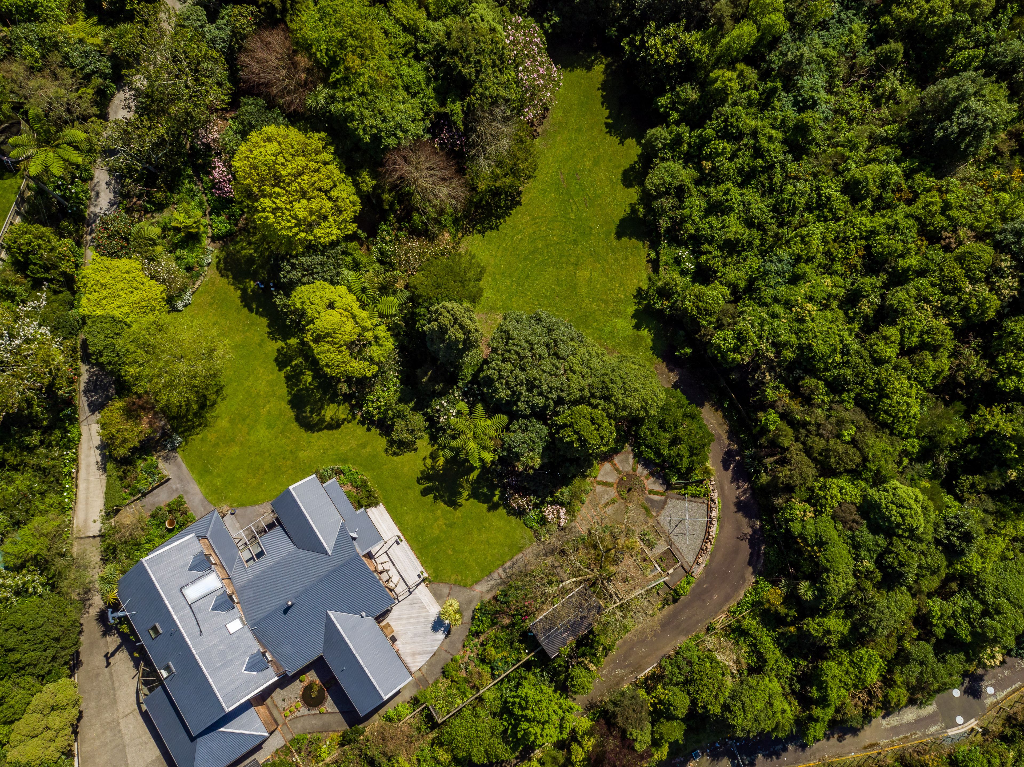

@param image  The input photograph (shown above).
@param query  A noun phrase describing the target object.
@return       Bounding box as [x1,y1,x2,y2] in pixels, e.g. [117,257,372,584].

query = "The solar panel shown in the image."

[180,570,222,636]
